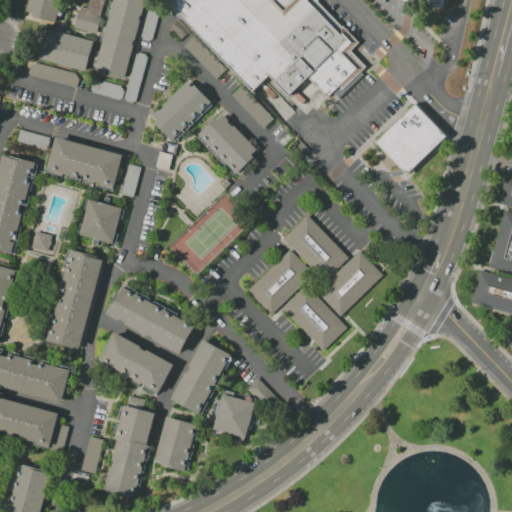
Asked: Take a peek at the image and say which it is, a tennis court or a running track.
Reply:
tennis court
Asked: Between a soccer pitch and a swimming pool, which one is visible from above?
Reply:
swimming pool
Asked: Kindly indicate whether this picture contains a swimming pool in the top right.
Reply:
No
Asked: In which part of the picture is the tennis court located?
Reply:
center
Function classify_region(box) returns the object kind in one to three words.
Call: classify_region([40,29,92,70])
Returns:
house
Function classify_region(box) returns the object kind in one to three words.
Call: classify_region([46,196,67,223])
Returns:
swimming pool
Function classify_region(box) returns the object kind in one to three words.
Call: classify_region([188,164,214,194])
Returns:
swimming pool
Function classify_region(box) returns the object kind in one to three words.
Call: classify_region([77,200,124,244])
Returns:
building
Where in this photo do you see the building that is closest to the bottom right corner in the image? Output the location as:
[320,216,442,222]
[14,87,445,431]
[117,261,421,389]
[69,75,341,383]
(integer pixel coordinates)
[473,271,512,314]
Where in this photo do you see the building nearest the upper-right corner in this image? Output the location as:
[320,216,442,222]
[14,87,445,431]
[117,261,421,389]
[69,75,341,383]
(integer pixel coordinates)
[376,104,447,172]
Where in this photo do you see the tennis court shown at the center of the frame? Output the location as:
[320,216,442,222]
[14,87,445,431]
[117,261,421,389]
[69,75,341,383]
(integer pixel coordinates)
[170,194,246,273]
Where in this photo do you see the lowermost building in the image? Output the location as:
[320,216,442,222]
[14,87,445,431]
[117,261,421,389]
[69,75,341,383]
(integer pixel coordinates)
[9,465,46,512]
